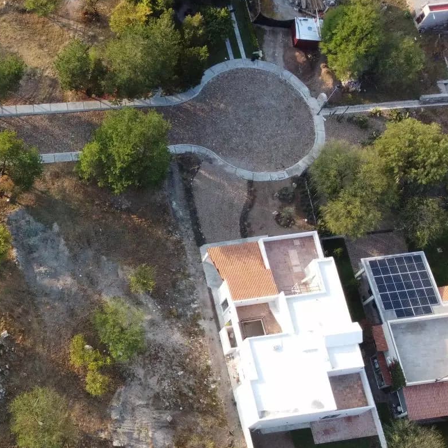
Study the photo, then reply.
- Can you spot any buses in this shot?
No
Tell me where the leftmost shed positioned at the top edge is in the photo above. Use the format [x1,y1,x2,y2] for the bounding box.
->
[289,9,324,53]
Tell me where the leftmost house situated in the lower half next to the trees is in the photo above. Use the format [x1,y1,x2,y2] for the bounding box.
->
[199,231,374,435]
